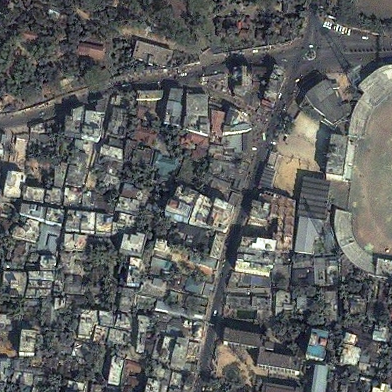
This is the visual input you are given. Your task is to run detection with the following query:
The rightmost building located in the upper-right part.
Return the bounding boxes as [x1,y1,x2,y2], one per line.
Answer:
[306,78,351,126]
